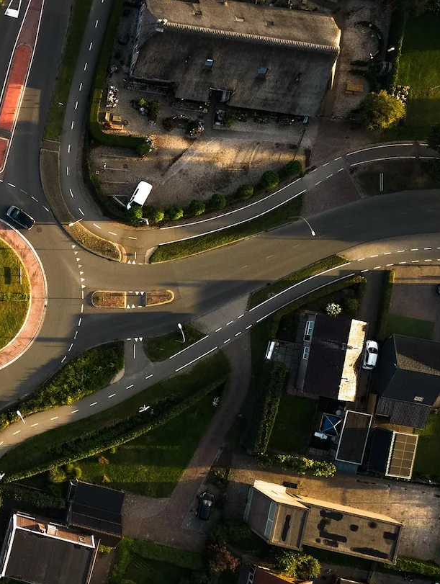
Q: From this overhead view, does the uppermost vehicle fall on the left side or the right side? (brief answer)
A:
left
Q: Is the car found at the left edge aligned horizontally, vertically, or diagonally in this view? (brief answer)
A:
diagonally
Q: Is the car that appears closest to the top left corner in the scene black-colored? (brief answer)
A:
Yes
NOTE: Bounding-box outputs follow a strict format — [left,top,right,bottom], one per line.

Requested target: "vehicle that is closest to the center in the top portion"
[128,177,154,209]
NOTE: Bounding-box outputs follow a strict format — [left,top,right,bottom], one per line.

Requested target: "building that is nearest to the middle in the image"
[293,314,367,401]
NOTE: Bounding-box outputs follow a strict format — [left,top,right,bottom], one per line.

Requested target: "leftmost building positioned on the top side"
[127,0,341,120]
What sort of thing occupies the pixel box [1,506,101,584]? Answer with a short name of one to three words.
house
